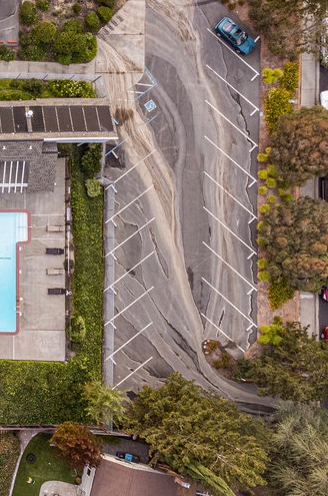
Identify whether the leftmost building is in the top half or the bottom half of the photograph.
top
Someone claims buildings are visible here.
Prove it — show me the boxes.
[0,98,118,193]
[82,455,192,496]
